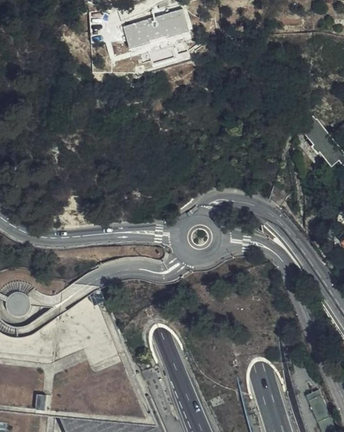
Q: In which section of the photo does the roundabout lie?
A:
center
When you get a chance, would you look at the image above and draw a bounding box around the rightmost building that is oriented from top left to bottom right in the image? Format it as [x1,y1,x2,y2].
[304,117,344,168]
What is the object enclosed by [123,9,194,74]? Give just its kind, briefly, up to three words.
house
